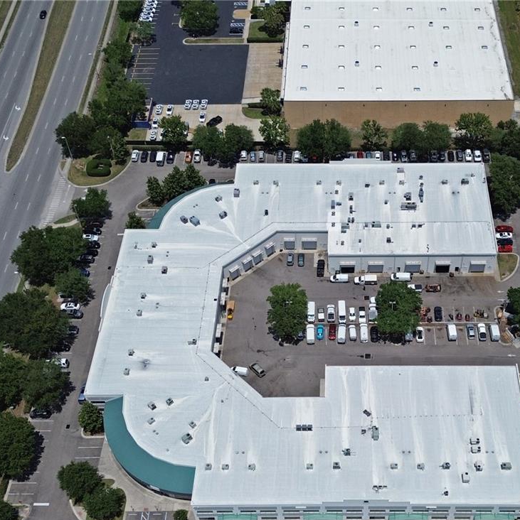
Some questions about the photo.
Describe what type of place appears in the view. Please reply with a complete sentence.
This image shows an industrial area.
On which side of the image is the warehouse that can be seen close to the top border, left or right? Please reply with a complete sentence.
It is on the right.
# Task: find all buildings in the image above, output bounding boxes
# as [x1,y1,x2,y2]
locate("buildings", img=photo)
[282,0,513,129]
[84,160,520,520]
